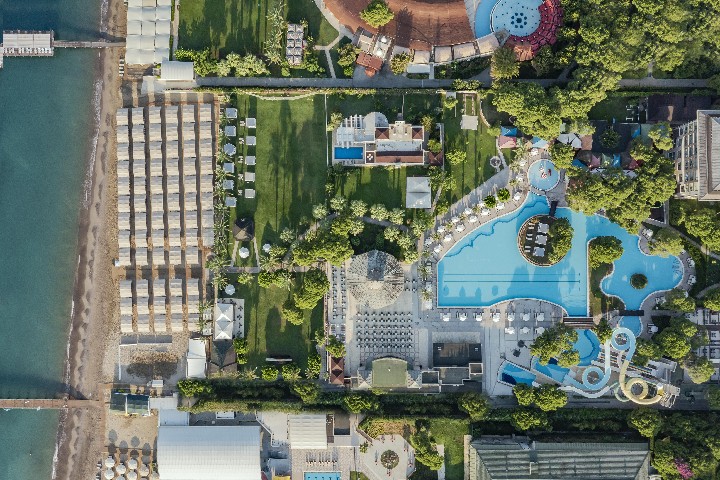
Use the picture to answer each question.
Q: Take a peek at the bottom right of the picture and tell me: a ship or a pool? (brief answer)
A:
pool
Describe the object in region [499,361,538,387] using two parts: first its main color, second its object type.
blue swimming pool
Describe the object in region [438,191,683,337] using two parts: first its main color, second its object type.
blue swimming pool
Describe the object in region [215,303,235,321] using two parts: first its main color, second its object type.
white tent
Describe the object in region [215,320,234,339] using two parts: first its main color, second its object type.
white tent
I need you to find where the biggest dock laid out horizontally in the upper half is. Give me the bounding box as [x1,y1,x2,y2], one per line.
[1,30,127,56]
